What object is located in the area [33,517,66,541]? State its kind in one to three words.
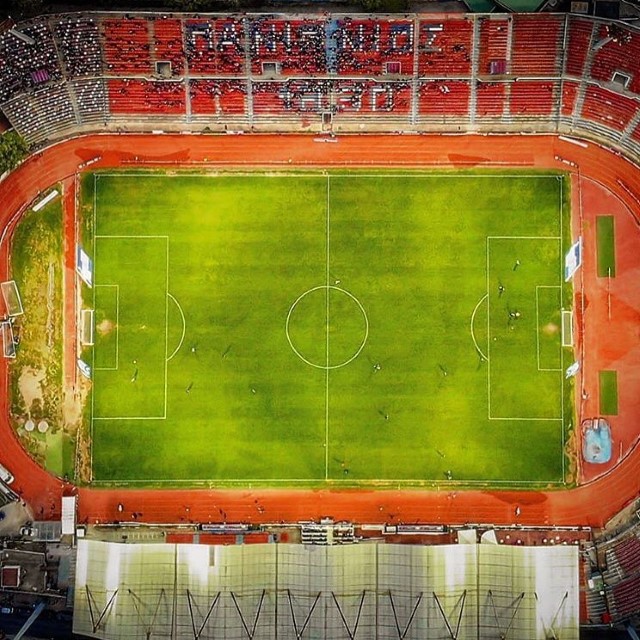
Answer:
building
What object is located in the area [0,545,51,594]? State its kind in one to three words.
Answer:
building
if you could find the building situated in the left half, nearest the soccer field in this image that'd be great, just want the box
[62,493,79,534]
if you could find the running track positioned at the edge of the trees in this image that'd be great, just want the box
[0,134,640,524]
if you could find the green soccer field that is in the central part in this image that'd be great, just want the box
[90,174,566,483]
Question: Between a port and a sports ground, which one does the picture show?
sports ground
